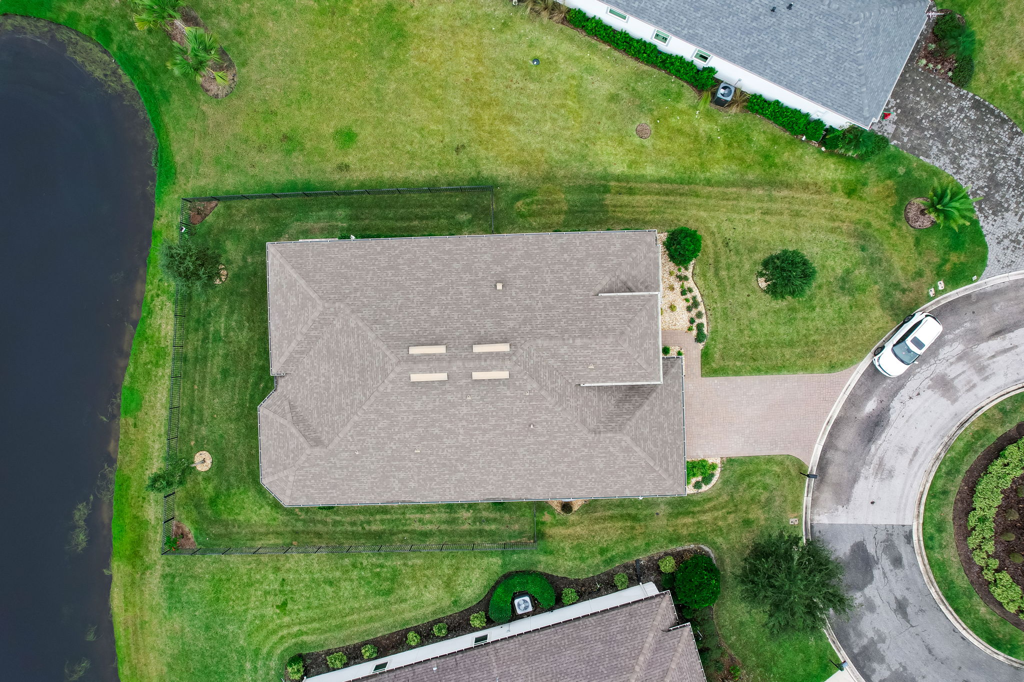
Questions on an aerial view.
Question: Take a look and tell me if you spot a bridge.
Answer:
No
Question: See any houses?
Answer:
Yes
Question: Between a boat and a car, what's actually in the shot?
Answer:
car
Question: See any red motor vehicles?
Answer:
No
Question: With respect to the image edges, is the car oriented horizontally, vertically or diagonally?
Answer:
diagonally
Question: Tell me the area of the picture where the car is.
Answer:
right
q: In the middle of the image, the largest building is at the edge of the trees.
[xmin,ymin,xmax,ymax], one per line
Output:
[258,230,687,507]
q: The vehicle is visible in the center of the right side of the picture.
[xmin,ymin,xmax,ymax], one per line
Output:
[875,306,945,377]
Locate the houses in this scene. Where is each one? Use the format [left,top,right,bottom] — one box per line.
[258,230,687,507]
[555,0,933,133]
[305,582,706,682]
